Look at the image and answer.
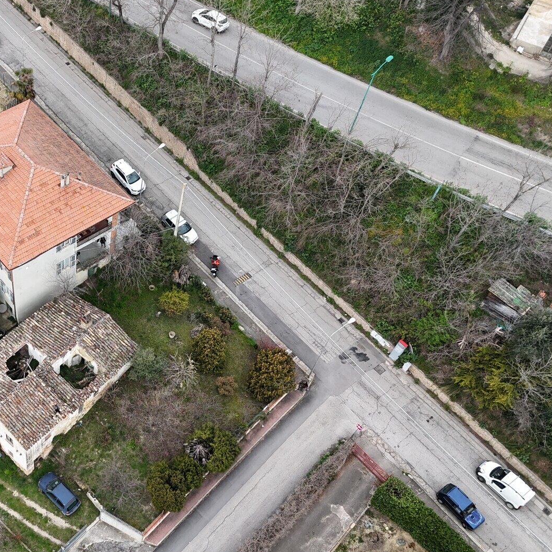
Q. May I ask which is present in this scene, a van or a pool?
van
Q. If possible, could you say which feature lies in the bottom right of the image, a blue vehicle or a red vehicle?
blue vehicle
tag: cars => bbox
[37,471,84,521]
[159,210,198,246]
[437,484,483,531]
[109,159,145,197]
[190,11,232,36]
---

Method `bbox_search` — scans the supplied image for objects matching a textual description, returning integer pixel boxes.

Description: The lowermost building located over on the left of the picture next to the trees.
[0,287,141,474]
